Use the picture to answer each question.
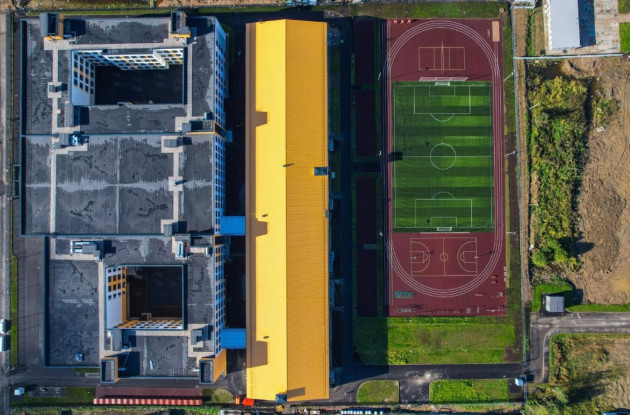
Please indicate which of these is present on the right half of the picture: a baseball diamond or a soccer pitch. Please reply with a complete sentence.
It is a soccer pitch that can be seen on the right half of the picture.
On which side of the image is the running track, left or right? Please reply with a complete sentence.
You can find the running track on the right side of the picture.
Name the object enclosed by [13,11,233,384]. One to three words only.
building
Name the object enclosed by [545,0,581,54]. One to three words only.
building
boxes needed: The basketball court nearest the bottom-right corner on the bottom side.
[408,235,479,278]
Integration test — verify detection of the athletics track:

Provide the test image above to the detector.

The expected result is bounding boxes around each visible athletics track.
[380,18,507,317]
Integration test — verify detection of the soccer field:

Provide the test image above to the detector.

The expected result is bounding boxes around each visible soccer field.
[392,81,494,232]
